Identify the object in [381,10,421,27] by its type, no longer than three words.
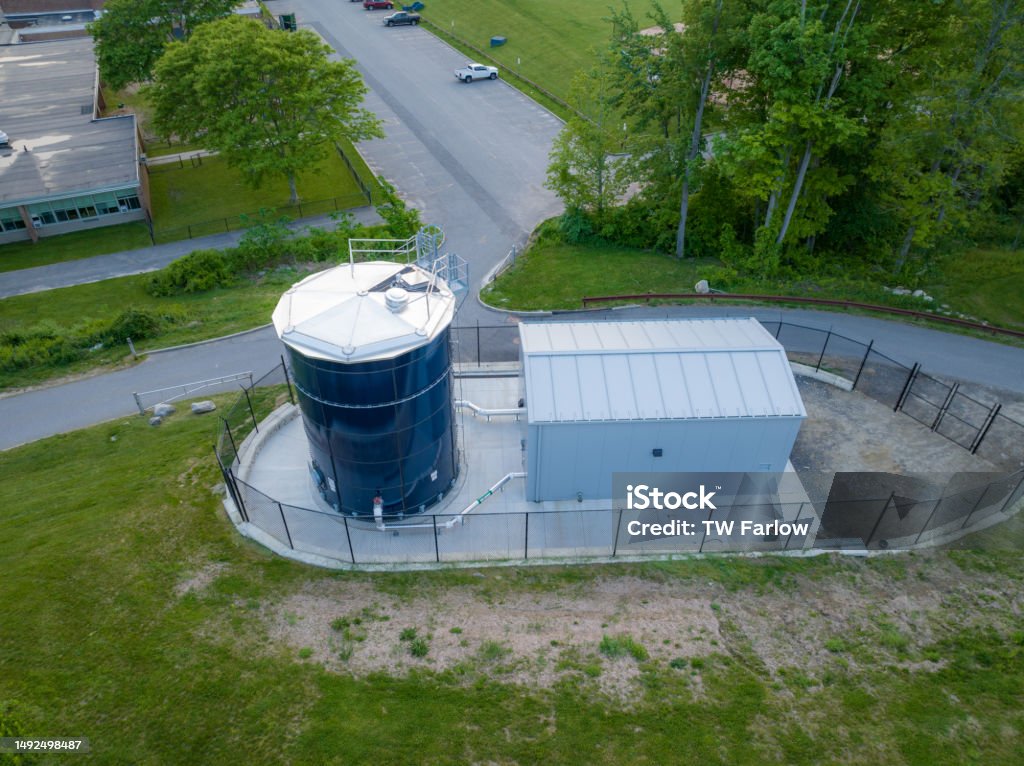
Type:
vehicle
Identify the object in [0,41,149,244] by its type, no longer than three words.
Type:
building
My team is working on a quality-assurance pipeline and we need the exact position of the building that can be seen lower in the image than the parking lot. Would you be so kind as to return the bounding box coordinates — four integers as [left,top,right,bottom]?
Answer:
[512,317,808,504]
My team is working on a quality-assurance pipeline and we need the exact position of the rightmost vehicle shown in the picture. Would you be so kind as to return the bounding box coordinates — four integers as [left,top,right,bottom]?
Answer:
[454,63,502,82]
